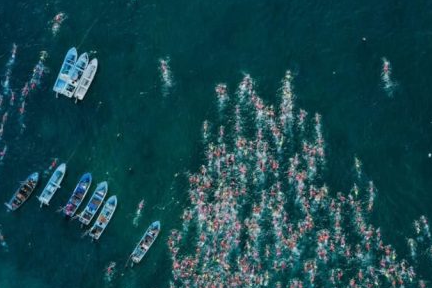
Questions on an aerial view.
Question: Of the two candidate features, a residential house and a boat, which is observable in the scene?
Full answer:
Of the two, only a boat appears.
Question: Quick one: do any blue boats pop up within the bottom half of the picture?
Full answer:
Yes, you'll find a blue boat within the bottom half of the picture.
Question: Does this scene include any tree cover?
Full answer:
No, tree cover can't be seen anywhere here.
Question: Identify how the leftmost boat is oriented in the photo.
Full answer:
I'd say the leftmost boat is aligned at an angle in the picture.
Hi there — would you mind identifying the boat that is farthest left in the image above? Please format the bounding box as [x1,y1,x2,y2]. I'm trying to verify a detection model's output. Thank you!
[2,171,37,211]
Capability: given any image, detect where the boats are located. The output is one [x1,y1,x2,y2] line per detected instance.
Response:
[50,45,74,92]
[35,162,65,206]
[86,195,116,240]
[76,180,106,225]
[73,57,96,101]
[60,171,90,217]
[63,51,86,97]
[129,219,160,264]
[2,171,37,211]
